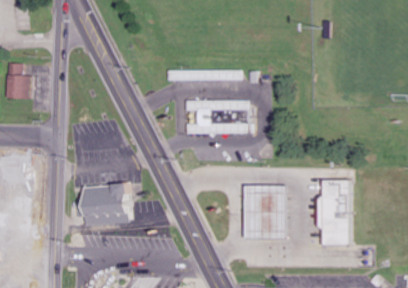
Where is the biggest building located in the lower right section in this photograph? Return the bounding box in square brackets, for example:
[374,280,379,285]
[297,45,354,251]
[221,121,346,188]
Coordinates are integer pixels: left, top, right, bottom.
[314,181,352,246]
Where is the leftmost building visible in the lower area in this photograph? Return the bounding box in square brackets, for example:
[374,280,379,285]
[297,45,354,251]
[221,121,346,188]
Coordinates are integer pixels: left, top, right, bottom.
[76,183,138,226]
